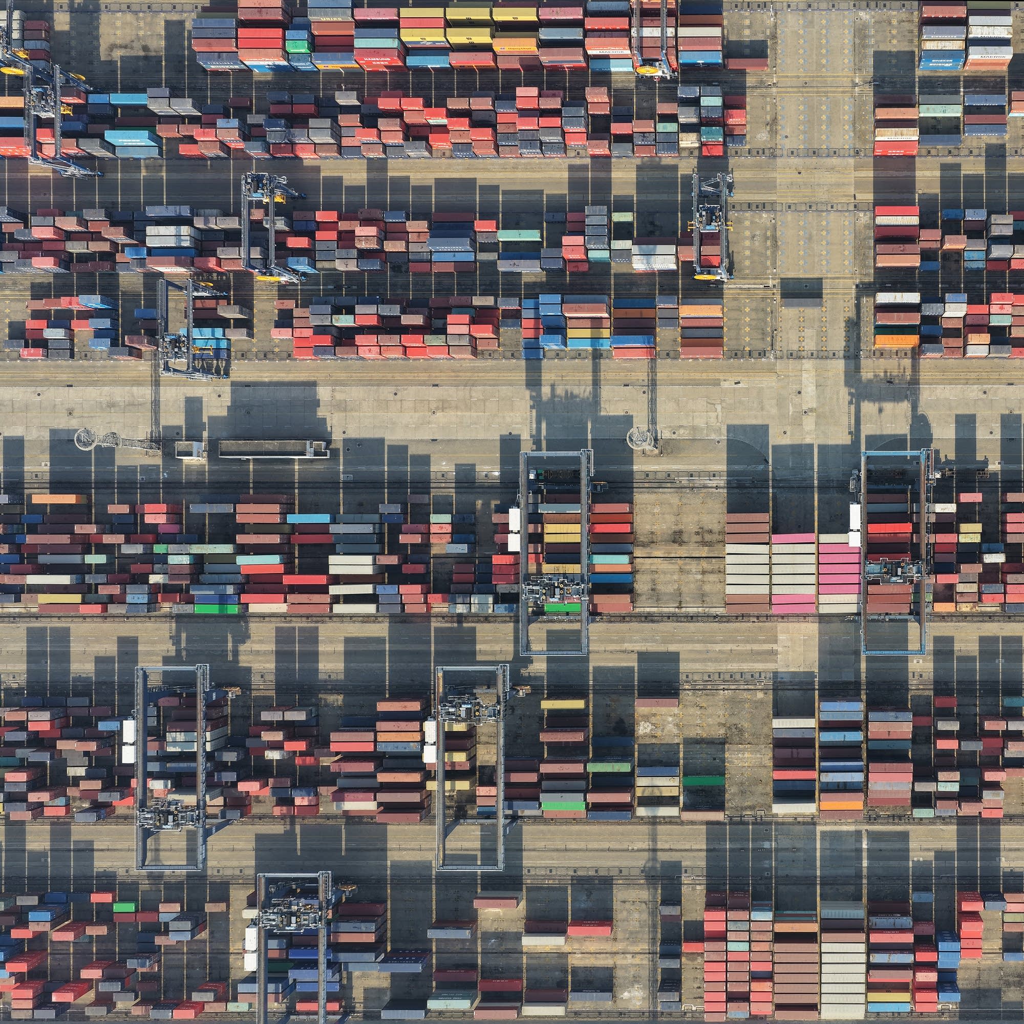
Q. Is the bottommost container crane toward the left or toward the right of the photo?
left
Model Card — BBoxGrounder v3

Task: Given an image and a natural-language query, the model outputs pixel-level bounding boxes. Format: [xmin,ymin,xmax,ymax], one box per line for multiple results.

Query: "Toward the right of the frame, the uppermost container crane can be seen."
[630,0,682,83]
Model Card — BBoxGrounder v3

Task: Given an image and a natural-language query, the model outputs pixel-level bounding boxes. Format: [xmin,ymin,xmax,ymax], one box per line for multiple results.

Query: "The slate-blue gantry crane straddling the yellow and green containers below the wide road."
[506,450,612,657]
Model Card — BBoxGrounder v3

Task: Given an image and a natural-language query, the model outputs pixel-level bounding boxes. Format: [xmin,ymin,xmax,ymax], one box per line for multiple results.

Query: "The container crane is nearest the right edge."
[847,449,934,656]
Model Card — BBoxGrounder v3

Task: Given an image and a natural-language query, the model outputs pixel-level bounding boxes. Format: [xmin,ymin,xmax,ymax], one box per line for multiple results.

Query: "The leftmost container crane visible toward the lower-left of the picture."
[122,661,246,872]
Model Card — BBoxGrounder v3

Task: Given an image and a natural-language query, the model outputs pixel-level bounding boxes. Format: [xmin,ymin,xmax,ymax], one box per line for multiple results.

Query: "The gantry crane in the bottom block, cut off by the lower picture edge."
[243,862,362,1024]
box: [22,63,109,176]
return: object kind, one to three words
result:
container crane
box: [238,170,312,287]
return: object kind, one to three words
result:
container crane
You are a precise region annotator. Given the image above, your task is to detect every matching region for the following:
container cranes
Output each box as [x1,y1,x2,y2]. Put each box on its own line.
[506,450,612,657]
[22,63,109,176]
[122,661,246,872]
[422,661,532,872]
[243,862,362,1024]
[0,0,54,83]
[847,449,934,656]
[630,0,682,83]
[238,170,312,287]
[156,278,234,379]
[688,172,739,286]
